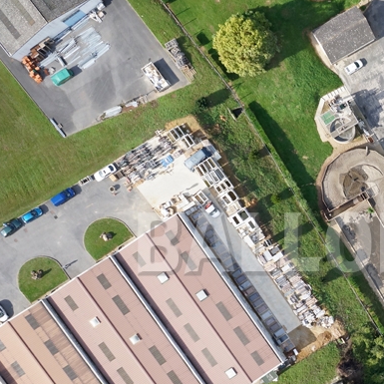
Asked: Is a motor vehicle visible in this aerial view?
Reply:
Yes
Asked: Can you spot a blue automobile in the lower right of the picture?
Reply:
No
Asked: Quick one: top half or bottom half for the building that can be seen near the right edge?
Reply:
top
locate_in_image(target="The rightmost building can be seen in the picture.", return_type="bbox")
[313,6,377,65]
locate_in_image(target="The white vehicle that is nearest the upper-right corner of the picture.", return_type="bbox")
[342,57,366,75]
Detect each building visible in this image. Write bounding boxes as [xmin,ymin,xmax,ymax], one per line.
[313,6,377,65]
[0,0,103,58]
[0,211,287,384]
